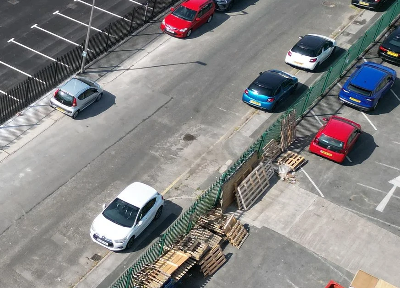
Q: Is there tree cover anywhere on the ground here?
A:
No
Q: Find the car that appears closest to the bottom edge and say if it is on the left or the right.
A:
left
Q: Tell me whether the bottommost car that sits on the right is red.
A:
Yes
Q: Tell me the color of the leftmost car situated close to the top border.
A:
red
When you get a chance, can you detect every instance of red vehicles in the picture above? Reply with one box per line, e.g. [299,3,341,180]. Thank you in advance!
[162,0,217,39]
[312,114,369,164]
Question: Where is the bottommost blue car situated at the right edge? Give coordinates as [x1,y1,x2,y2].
[340,61,400,114]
